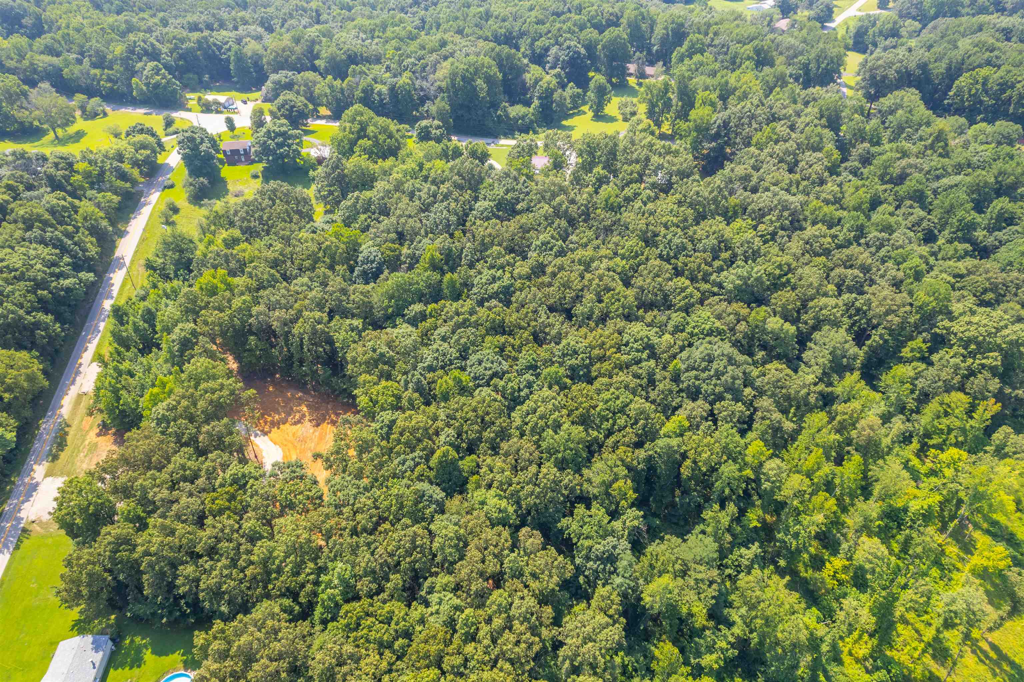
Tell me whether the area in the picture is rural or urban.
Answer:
rural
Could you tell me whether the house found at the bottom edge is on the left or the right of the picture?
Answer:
left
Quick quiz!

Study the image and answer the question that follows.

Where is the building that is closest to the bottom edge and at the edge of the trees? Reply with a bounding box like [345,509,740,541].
[42,634,113,682]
